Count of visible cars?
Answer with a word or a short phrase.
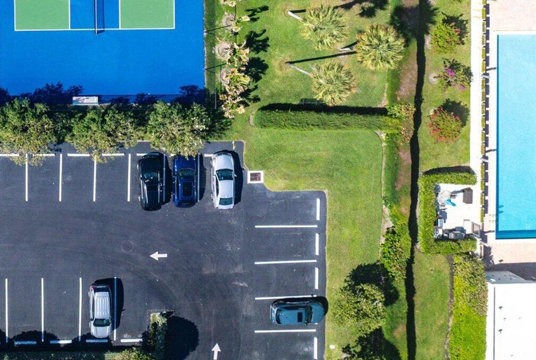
5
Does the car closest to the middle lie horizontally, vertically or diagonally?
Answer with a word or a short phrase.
vertically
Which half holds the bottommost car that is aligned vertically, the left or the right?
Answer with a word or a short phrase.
left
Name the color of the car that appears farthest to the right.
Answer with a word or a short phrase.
blue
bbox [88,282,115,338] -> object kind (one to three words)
car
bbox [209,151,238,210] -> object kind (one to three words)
car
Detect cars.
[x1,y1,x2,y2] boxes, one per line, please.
[136,154,165,211]
[170,152,200,209]
[209,151,238,210]
[88,282,115,338]
[267,298,326,329]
